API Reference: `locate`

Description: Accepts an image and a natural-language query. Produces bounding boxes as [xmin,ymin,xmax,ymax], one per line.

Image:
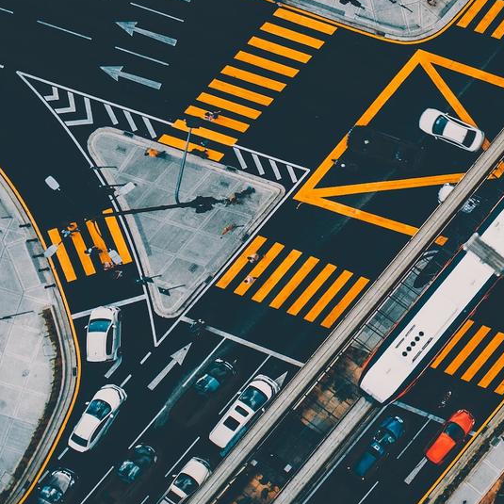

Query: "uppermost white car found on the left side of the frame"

[85,303,122,362]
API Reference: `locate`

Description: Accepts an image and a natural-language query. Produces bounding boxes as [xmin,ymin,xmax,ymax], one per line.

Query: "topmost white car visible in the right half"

[420,108,487,152]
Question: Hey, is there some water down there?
No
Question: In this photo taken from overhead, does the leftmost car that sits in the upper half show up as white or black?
black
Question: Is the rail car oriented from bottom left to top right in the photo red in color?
No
